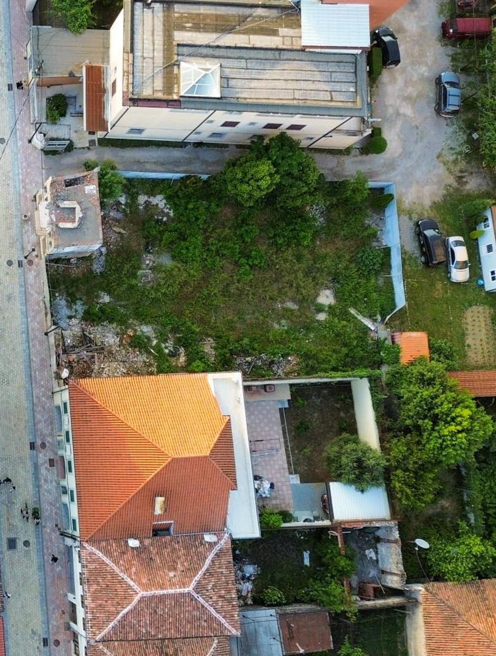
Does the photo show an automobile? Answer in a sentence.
Yes, an automobile appears in the view.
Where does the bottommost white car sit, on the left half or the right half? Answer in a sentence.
It is on the right.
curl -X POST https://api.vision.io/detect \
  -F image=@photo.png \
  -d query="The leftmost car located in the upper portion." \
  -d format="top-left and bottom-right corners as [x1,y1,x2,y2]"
[378,26,403,65]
